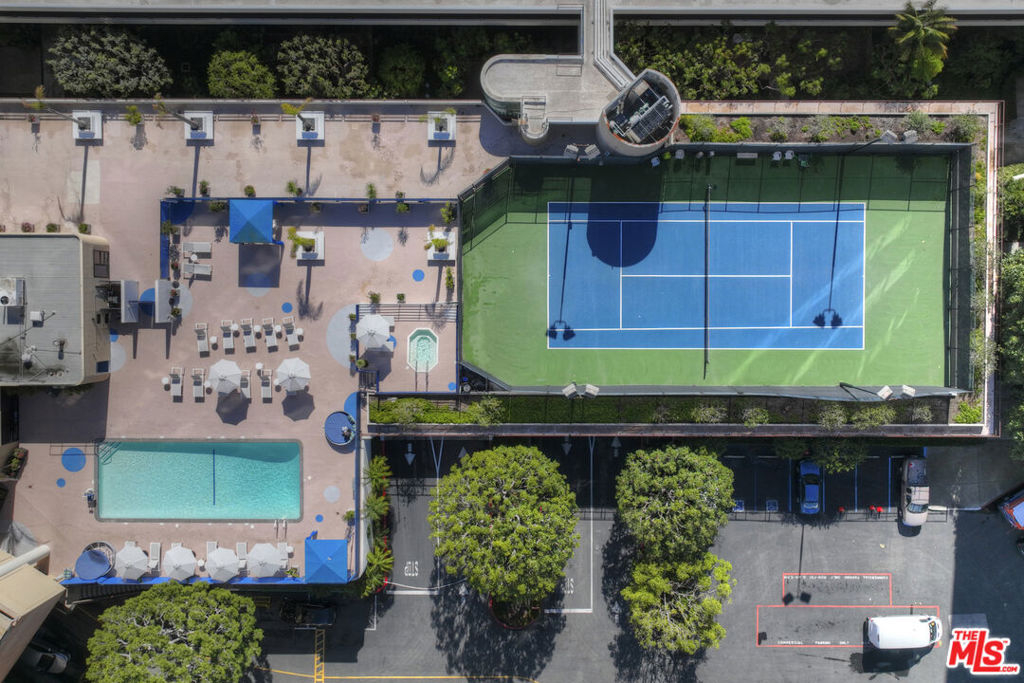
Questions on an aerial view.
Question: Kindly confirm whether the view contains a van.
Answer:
Yes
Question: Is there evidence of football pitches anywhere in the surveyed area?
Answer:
No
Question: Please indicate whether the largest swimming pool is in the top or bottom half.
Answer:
bottom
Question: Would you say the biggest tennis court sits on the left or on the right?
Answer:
right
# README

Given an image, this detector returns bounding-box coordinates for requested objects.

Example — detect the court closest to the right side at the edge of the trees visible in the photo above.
[461,153,951,386]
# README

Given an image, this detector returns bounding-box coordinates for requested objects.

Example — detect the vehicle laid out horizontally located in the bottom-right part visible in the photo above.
[866,613,942,646]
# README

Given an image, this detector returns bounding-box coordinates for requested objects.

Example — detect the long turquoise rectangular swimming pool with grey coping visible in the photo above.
[85,435,310,529]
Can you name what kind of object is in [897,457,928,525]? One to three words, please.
truck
